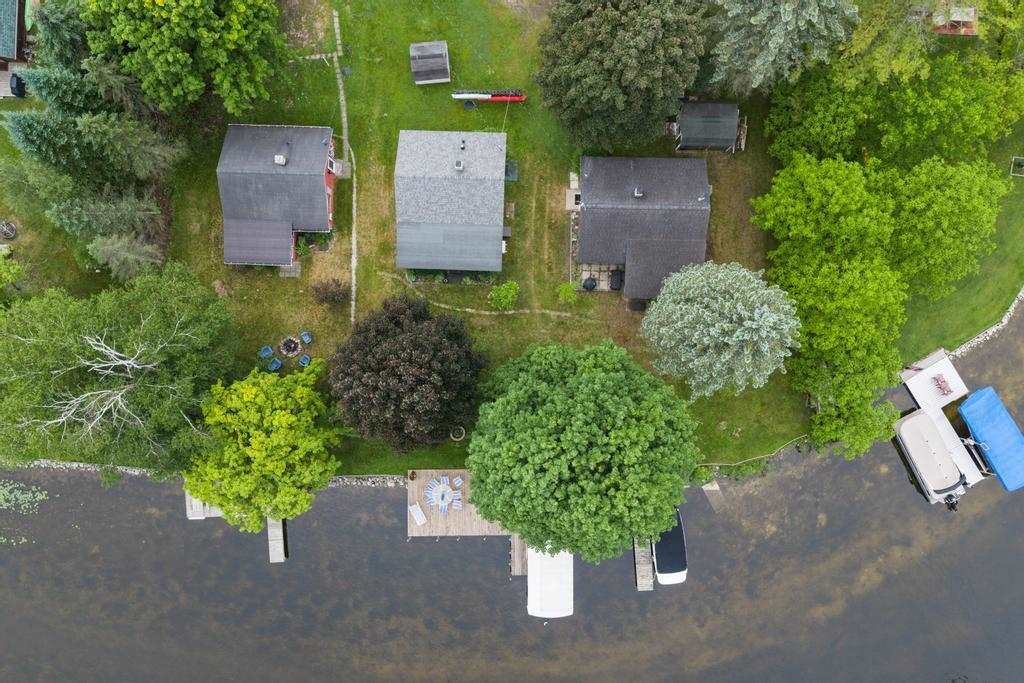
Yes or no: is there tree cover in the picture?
Yes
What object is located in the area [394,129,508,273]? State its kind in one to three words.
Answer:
house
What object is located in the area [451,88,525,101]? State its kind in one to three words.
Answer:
boat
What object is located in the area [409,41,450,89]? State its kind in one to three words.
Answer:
shed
